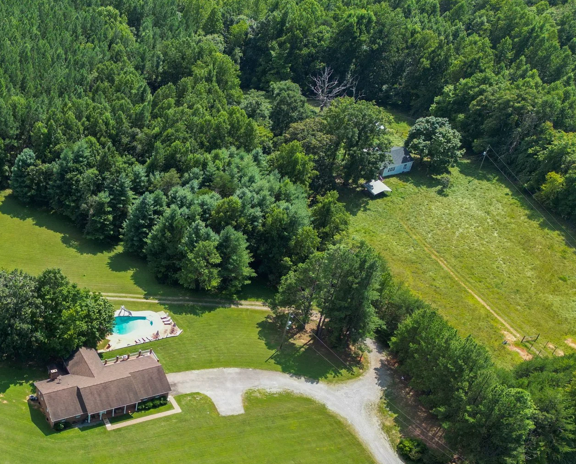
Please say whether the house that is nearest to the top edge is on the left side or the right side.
right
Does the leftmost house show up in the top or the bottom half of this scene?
bottom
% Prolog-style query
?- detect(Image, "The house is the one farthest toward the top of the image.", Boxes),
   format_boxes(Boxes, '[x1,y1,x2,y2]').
[371,146,414,176]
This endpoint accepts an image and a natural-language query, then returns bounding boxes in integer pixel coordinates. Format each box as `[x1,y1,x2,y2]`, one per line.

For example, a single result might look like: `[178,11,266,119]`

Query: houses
[371,146,414,176]
[34,346,172,431]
